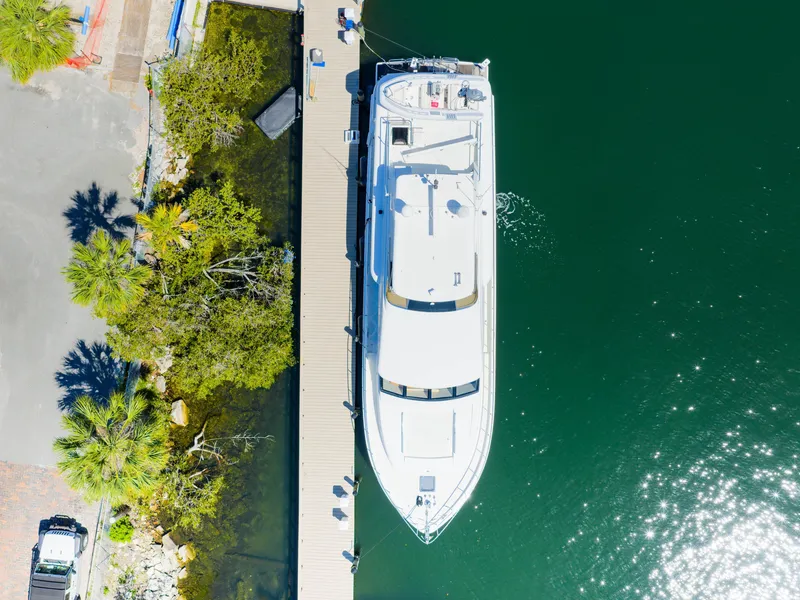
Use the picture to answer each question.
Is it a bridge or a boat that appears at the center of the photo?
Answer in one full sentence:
You can see a boat at the center of the photo.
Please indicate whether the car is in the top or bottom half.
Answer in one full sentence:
Seen from above, the car lies in the bottom half of the view.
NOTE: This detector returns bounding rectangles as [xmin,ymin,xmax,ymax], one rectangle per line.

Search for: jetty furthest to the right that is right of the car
[295,0,365,600]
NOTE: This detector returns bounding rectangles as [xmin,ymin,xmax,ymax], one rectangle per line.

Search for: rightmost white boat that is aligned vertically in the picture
[362,52,496,545]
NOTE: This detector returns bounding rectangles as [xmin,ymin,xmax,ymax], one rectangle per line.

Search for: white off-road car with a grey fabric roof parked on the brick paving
[27,520,91,600]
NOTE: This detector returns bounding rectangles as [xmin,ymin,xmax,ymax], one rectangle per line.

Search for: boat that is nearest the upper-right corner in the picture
[379,74,488,120]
